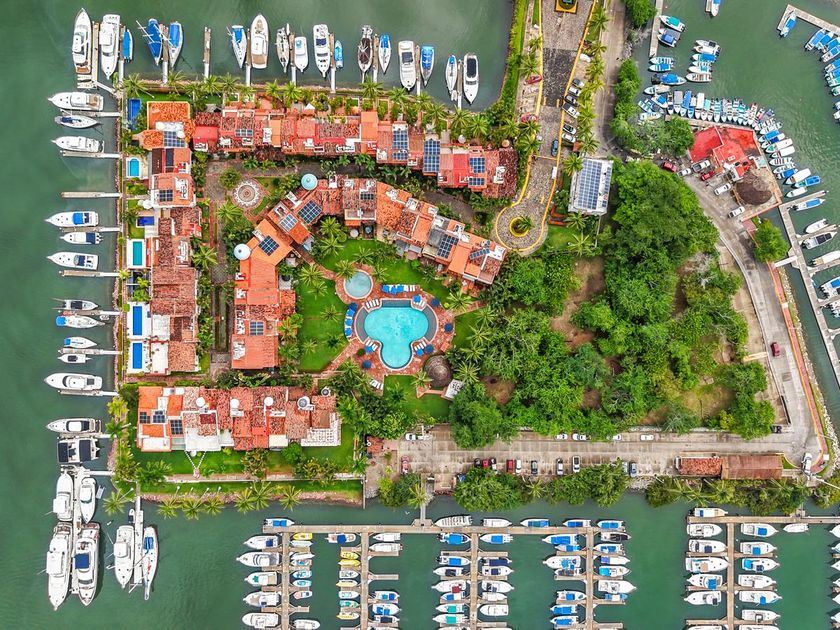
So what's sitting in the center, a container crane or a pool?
pool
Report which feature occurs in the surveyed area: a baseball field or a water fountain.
water fountain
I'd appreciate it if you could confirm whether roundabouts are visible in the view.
Yes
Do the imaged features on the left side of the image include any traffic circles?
No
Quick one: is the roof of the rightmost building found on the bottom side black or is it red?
red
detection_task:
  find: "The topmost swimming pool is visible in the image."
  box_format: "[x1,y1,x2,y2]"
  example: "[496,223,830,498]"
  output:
[127,98,141,130]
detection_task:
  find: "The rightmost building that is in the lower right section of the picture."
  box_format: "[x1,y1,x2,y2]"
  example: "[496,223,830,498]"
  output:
[715,452,783,478]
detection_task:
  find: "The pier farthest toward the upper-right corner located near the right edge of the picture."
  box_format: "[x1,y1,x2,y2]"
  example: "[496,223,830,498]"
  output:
[776,4,840,37]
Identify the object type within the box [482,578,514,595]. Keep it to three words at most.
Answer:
boat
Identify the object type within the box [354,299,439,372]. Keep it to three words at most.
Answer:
swimming pool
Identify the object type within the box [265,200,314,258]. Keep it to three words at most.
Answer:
house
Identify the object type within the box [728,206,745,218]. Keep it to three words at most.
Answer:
vehicle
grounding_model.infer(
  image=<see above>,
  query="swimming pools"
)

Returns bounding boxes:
[128,158,139,177]
[132,343,142,368]
[344,270,373,299]
[132,306,142,336]
[354,299,439,372]
[127,98,141,130]
[137,216,154,227]
[131,241,143,265]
